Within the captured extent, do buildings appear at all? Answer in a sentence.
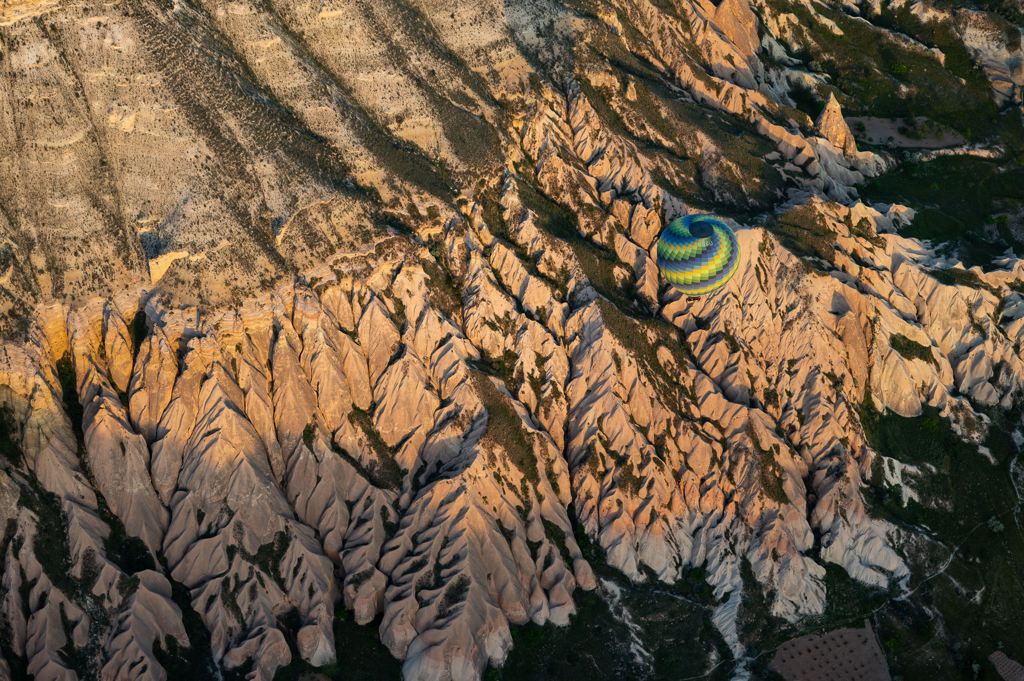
No, I can't see a single building in this photo.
